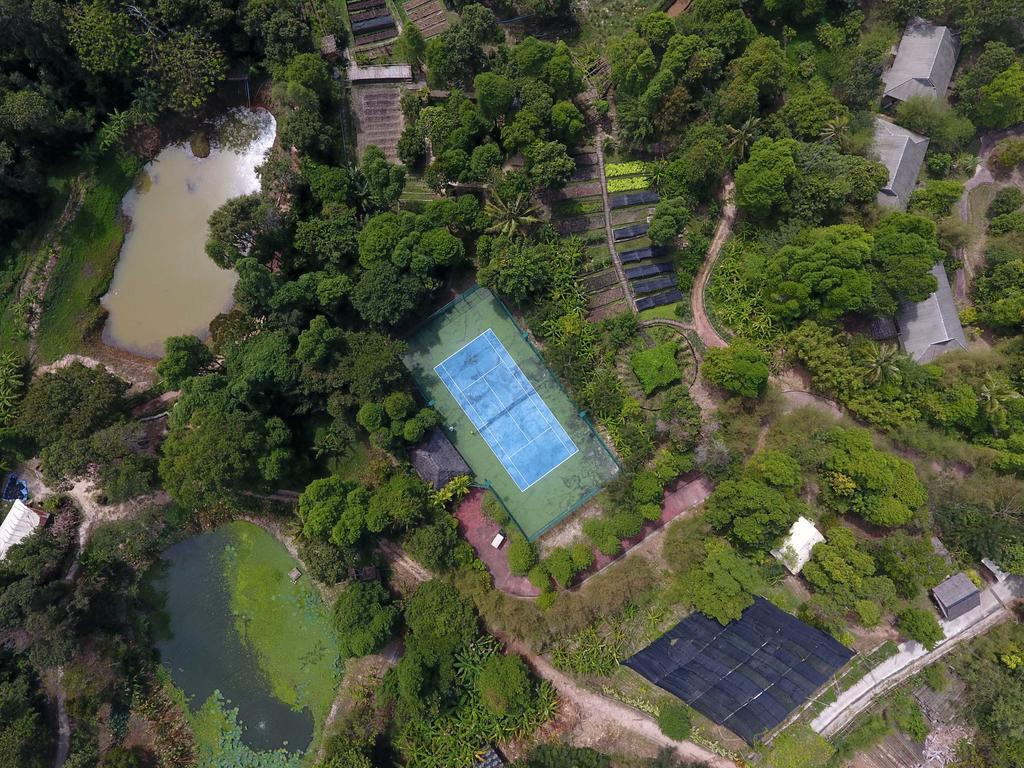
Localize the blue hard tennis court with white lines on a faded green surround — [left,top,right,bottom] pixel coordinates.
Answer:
[396,286,620,541]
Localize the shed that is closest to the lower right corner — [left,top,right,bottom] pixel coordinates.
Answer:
[932,573,980,621]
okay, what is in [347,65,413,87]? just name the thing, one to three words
shed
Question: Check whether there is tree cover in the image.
Yes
